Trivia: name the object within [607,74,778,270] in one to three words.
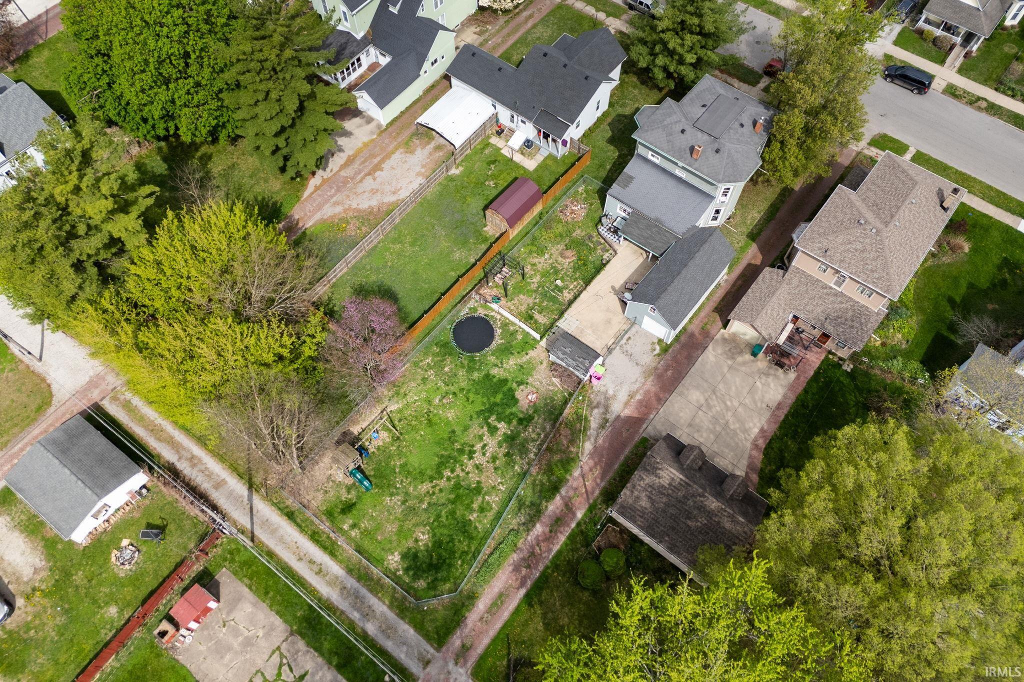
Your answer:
house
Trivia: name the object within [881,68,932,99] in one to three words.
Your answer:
car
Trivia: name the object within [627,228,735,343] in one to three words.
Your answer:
building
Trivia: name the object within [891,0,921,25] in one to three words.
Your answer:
car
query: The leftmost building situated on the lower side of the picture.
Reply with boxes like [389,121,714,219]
[3,415,148,545]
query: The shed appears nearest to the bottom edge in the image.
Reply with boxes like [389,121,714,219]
[170,581,227,635]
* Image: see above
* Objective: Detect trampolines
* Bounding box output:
[451,315,496,358]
